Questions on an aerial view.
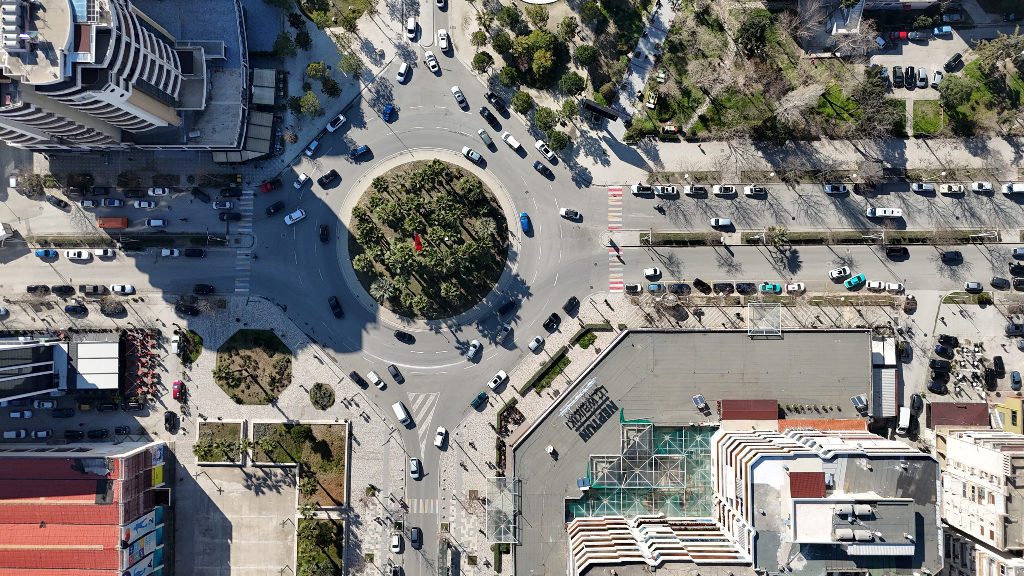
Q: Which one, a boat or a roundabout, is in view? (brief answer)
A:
roundabout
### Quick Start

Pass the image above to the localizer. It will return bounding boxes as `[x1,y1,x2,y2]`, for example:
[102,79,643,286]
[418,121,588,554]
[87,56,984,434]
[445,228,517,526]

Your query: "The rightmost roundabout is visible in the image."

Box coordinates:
[292,103,565,377]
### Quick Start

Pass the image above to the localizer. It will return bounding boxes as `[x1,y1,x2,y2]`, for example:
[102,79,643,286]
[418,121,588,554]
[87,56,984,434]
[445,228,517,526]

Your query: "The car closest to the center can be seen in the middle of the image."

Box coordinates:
[497,299,518,316]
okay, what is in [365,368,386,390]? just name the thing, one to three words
vehicle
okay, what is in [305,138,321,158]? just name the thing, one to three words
car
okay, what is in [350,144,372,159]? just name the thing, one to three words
car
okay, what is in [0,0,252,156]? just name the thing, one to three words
building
